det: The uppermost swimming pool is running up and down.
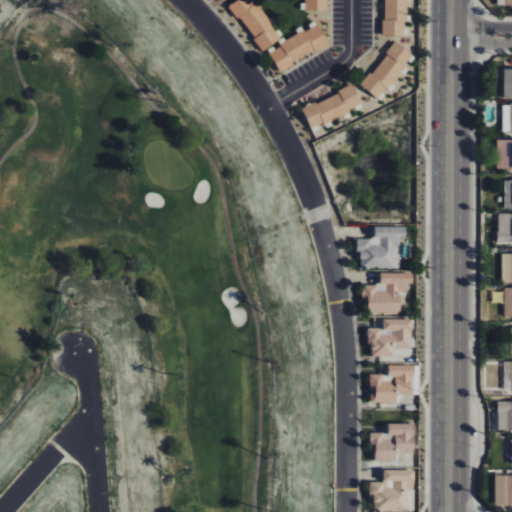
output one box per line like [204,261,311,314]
[485,100,498,127]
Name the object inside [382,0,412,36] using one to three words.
building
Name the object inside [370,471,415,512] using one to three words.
house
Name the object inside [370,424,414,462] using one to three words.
house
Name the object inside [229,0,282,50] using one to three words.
building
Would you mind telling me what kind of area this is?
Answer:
golf course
